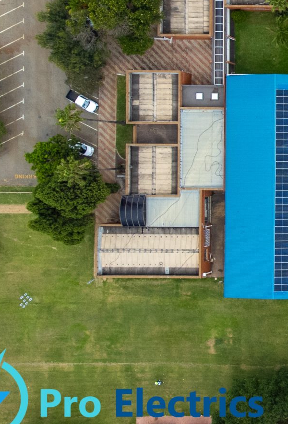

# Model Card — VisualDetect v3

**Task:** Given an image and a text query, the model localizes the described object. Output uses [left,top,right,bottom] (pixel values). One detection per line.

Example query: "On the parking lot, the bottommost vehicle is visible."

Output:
[67,138,96,156]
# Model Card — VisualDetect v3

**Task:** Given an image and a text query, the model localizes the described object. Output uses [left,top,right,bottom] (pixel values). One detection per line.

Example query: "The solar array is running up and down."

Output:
[274,86,288,292]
